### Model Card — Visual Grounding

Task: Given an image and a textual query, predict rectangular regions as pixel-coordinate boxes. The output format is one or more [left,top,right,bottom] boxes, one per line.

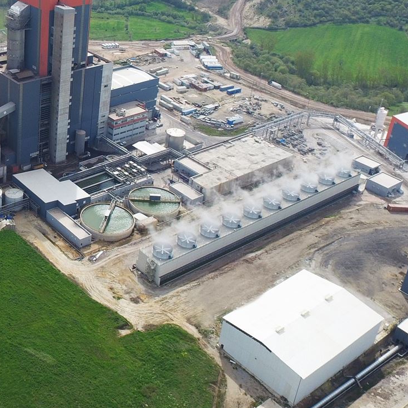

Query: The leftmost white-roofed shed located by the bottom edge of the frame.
[218,269,379,405]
